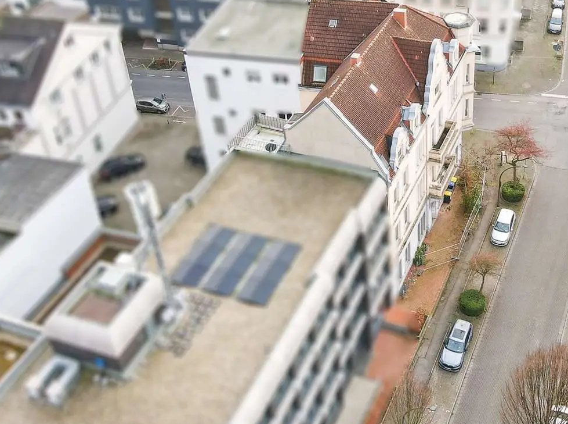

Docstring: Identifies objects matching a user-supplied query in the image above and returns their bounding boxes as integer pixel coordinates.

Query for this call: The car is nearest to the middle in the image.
[180,144,206,171]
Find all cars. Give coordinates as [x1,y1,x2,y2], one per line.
[437,319,474,374]
[551,0,565,8]
[180,144,206,171]
[96,155,146,179]
[91,193,129,215]
[547,10,565,32]
[136,95,173,116]
[169,56,190,72]
[490,210,517,246]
